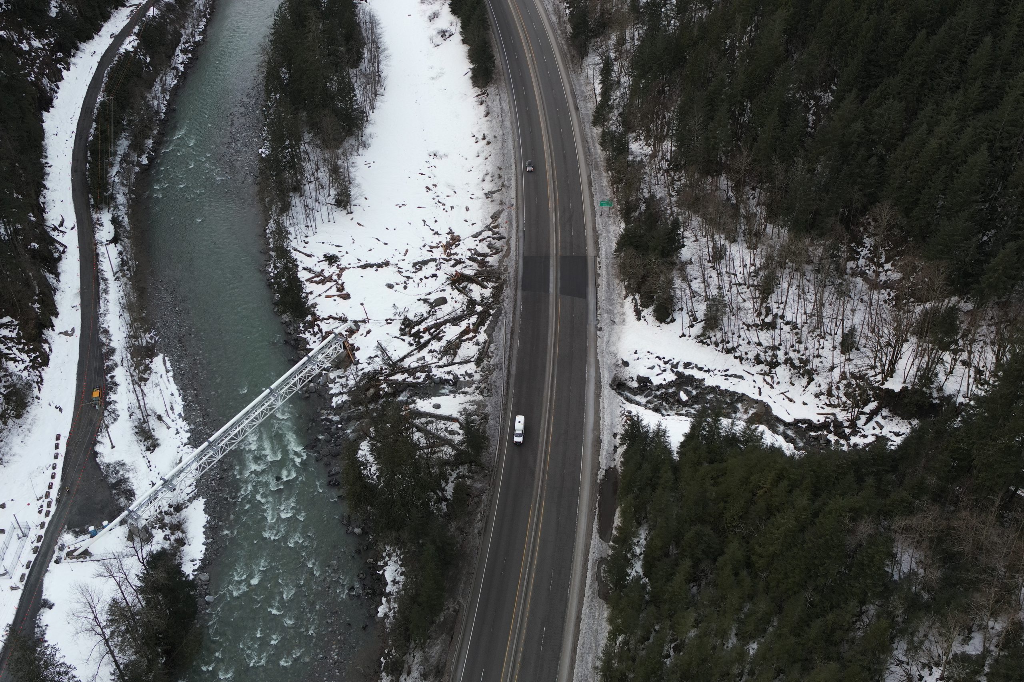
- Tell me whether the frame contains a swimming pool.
No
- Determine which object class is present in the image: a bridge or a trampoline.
bridge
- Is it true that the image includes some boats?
No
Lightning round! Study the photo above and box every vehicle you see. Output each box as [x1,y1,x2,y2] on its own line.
[526,160,534,172]
[513,417,524,444]
[87,389,103,410]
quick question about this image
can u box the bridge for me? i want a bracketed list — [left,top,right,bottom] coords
[126,332,349,526]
